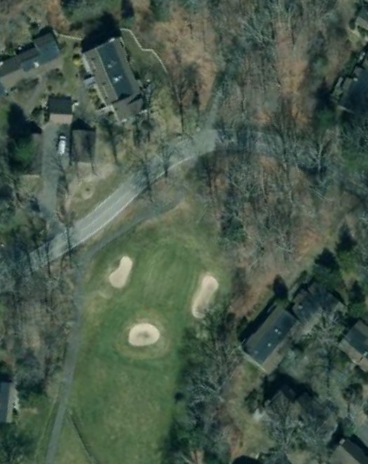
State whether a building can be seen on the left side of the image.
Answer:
Yes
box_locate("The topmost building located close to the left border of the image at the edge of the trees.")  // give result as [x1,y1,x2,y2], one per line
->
[0,33,62,96]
